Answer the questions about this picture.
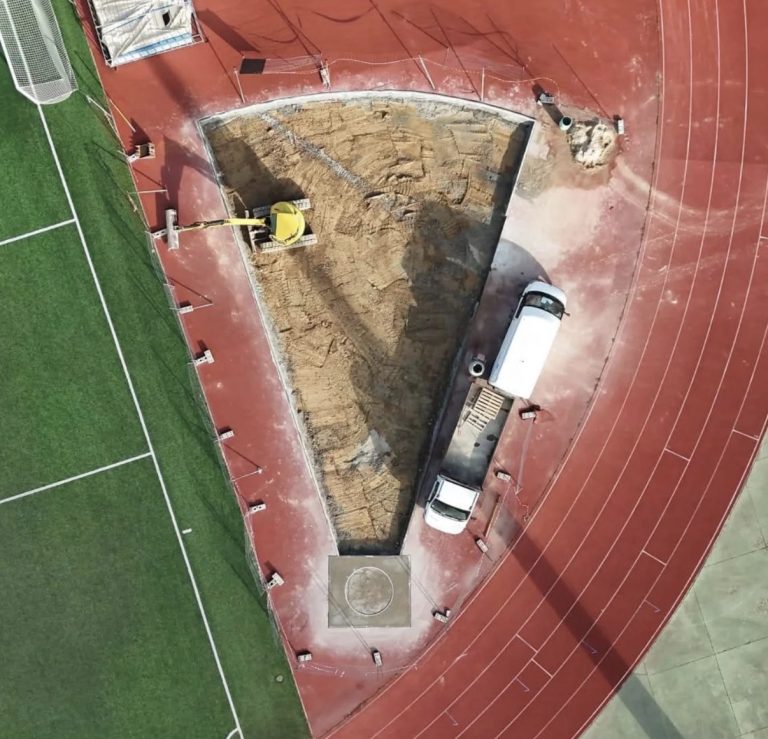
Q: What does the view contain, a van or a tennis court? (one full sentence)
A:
This aerial view contains a van.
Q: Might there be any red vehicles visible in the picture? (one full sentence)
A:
No, no red vehicle is visible in the scene.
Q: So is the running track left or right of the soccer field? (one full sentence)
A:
The running track appears to the right of the soccer field in this view.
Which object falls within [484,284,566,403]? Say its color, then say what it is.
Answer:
white van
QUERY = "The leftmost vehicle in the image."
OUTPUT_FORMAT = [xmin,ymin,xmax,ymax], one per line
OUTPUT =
[166,197,317,253]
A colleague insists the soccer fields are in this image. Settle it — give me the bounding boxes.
[0,0,315,739]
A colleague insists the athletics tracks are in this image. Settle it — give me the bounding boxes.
[315,0,768,739]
